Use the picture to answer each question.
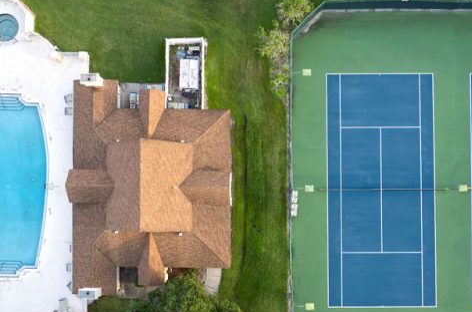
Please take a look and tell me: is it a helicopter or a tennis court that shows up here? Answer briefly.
tennis court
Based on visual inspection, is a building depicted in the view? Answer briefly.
Yes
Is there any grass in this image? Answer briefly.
Yes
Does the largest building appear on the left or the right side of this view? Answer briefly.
left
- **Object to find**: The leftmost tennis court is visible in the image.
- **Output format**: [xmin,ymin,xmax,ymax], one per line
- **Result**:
[318,74,448,307]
